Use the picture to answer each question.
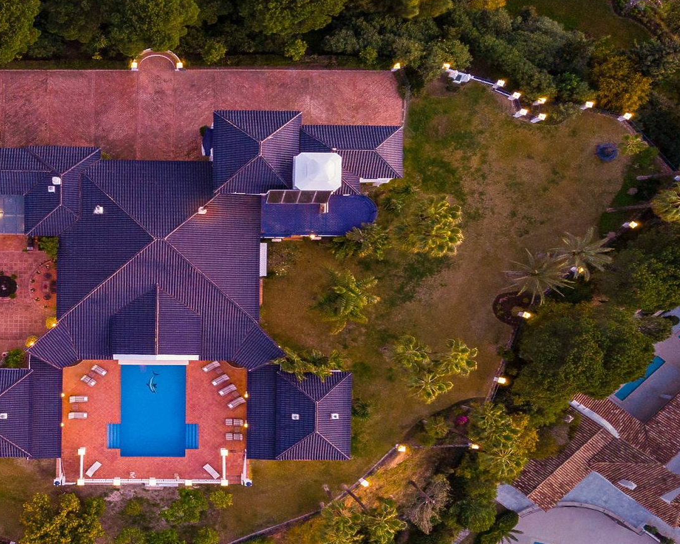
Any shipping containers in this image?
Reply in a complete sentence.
No, no shipping container is visible in the view.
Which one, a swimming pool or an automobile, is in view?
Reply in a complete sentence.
I can see a swimming pool in this picture.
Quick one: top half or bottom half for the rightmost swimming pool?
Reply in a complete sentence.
Seen from above, the rightmost swimming pool lies in the bottom half of the view.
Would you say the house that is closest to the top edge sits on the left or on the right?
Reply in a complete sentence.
The house that is closest to the top edge appears in the left half of the scene.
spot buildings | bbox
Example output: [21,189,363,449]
[0,109,404,460]
[507,392,680,529]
